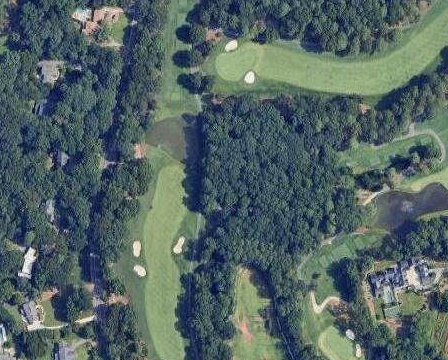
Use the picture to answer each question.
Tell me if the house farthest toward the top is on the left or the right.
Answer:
left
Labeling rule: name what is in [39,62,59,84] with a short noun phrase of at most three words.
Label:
house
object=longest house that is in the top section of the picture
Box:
[82,6,121,34]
